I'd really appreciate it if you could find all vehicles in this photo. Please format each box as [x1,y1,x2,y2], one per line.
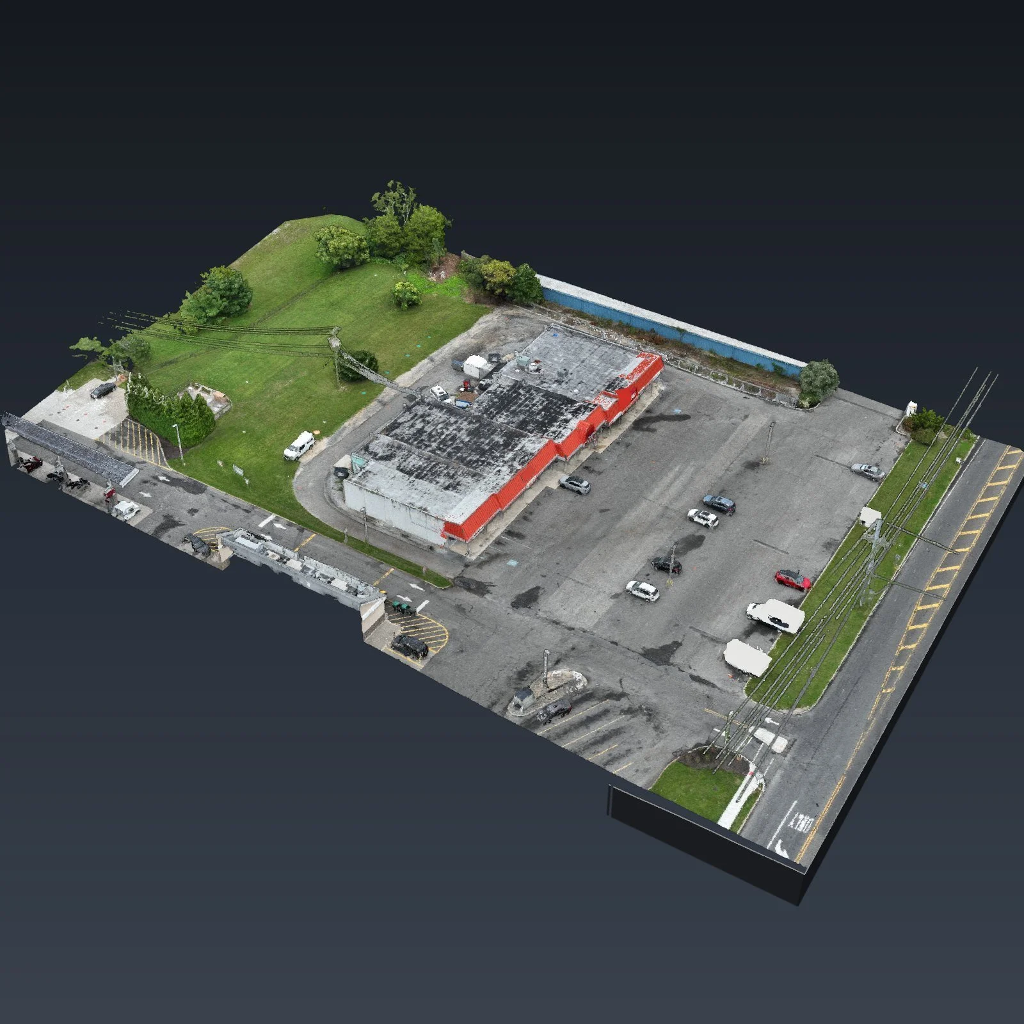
[746,598,805,634]
[461,370,476,389]
[560,477,590,495]
[181,536,211,557]
[431,384,454,405]
[703,495,737,515]
[390,635,429,657]
[46,471,70,487]
[852,465,885,482]
[687,509,719,529]
[109,500,144,520]
[64,478,93,494]
[536,697,575,724]
[89,380,119,399]
[285,429,314,457]
[774,568,811,592]
[15,455,45,471]
[625,581,659,603]
[721,638,772,675]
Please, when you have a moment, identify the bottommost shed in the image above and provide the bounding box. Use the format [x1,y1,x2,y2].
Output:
[511,684,536,711]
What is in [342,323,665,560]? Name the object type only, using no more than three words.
building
